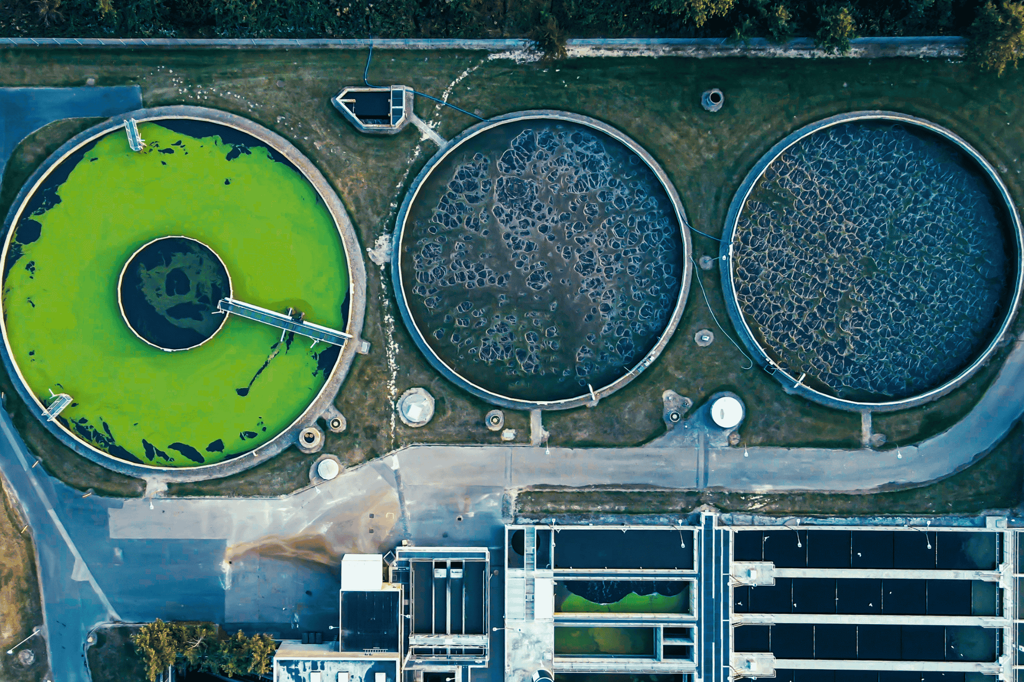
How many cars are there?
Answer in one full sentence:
There are no cars in this view.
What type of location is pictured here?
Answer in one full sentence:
The area seen from above is an industrial area.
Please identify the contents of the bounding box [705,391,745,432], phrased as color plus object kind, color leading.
white storage tank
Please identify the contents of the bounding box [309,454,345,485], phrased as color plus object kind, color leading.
white storage tank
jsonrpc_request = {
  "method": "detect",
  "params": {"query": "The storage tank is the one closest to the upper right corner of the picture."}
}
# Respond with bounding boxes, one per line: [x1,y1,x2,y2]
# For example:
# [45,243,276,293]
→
[720,108,1024,412]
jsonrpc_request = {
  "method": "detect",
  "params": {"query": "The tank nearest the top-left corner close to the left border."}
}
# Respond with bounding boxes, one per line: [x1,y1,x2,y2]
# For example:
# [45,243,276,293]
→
[0,106,367,479]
